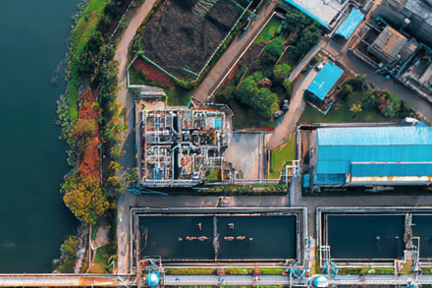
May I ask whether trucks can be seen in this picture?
No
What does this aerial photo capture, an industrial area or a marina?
industrial area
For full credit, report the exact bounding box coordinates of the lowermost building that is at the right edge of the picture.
[305,125,432,189]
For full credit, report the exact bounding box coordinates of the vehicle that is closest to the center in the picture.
[269,107,288,120]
